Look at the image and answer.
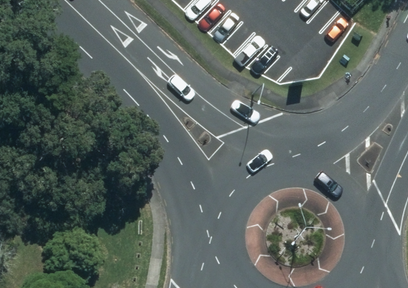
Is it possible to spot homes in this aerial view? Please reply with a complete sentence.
No, there's no home here.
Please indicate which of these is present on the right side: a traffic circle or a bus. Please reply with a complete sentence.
The one visible on the right side is a traffic circle.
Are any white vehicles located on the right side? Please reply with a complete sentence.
Yes, a white vehicle shows up on the right side.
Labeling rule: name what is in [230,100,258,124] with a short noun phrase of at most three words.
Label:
car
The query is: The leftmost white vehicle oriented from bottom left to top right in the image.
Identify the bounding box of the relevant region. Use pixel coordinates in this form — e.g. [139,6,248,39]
[186,0,212,20]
